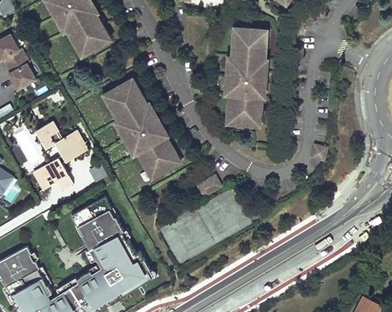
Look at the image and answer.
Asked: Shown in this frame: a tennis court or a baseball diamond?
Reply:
tennis court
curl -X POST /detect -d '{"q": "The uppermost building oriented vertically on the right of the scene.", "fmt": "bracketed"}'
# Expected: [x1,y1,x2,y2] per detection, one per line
[223,28,270,130]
